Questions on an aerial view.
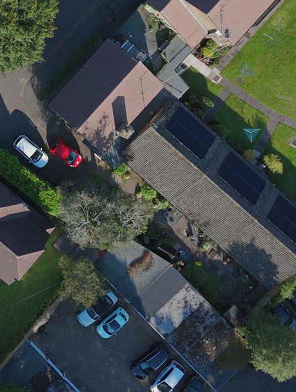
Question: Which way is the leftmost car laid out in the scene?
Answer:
on a diagonal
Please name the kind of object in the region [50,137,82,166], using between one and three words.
car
